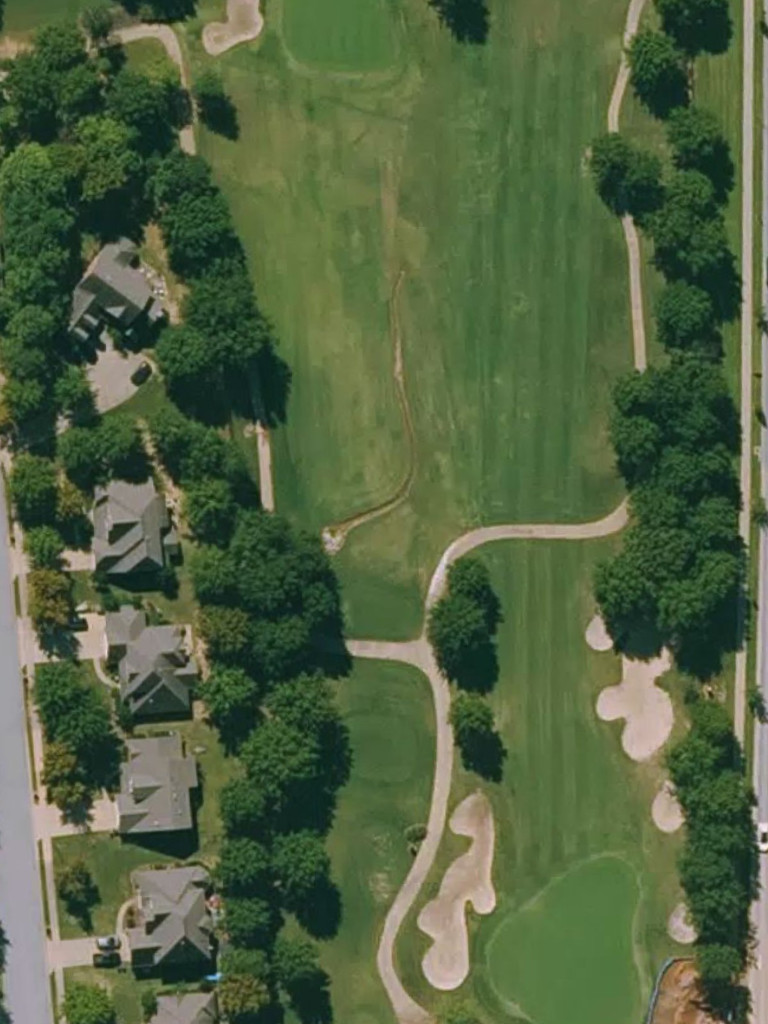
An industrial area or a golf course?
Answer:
golf course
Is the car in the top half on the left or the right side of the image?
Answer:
left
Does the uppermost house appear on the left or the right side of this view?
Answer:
left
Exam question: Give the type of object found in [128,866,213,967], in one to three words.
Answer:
house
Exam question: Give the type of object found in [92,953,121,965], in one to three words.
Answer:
vehicle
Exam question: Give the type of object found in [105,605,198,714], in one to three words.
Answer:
house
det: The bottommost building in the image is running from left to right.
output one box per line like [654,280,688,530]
[146,993,217,1024]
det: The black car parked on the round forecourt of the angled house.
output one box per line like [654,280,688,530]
[130,362,152,386]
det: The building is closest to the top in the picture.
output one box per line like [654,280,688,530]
[54,241,164,342]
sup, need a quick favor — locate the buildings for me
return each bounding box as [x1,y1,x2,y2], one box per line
[54,241,164,342]
[105,605,198,714]
[92,478,169,574]
[117,736,198,835]
[128,866,213,967]
[146,993,217,1024]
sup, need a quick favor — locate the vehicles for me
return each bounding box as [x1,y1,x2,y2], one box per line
[759,823,768,851]
[66,618,90,629]
[92,953,121,965]
[130,362,152,386]
[96,937,121,948]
